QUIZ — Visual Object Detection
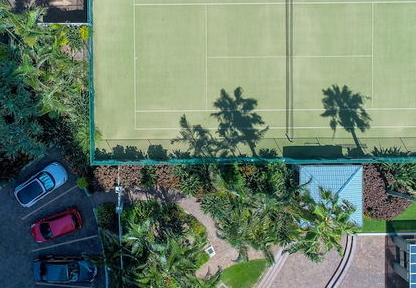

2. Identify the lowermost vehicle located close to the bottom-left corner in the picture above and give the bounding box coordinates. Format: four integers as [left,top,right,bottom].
[34,256,97,288]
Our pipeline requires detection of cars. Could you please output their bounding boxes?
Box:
[11,159,70,209]
[34,256,97,288]
[30,208,84,245]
